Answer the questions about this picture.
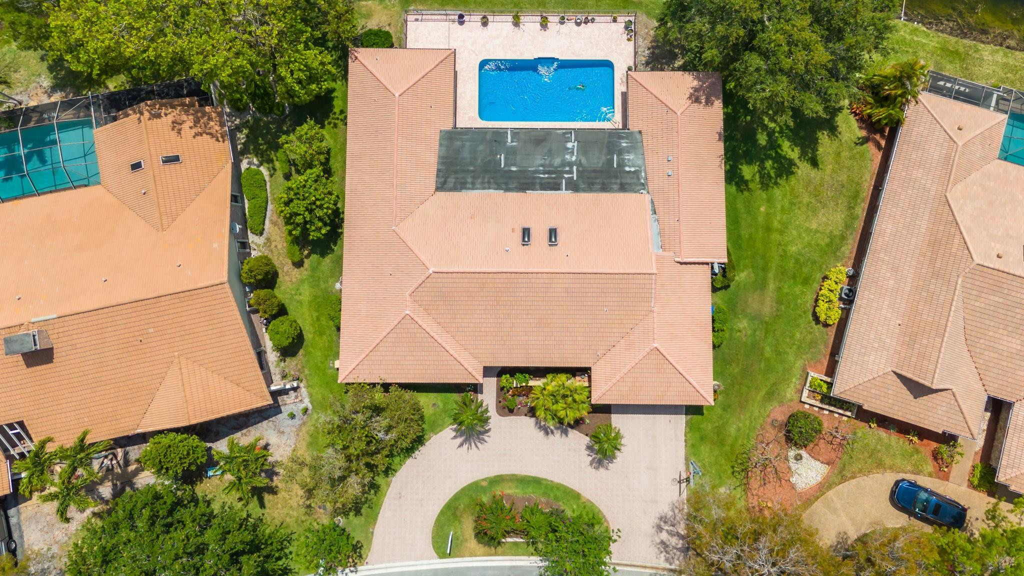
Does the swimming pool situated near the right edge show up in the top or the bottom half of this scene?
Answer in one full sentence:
You can find the swimming pool situated near the right edge in the top half.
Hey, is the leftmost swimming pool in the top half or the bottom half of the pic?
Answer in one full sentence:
Seen from above, the leftmost swimming pool lies in the top half of the view.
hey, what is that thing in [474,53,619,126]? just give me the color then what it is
blue swimming pool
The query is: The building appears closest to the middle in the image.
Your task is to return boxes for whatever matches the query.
[337,46,728,407]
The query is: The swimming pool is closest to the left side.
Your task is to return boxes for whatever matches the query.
[0,124,101,202]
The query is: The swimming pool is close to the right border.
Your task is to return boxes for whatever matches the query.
[1000,117,1024,165]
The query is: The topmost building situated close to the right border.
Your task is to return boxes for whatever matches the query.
[831,92,1024,442]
